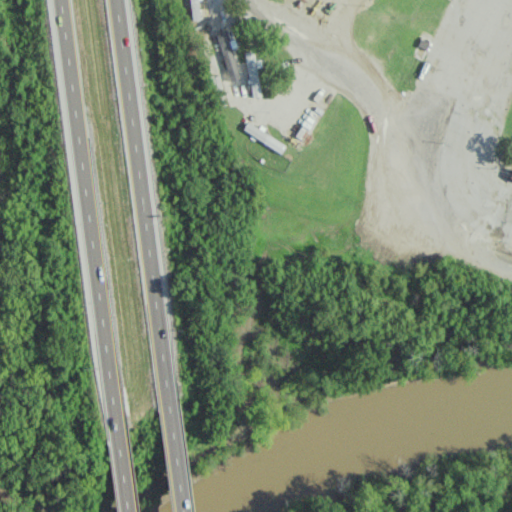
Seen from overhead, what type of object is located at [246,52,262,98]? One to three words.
house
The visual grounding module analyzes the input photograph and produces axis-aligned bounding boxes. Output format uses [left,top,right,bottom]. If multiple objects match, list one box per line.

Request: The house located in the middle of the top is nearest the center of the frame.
[244,123,288,155]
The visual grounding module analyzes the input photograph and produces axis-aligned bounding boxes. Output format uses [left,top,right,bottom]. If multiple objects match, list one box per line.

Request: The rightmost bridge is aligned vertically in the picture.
[158,406,194,512]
